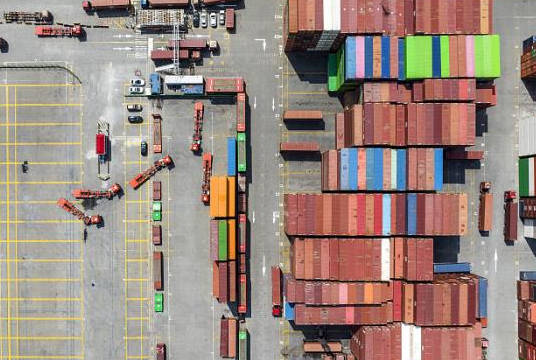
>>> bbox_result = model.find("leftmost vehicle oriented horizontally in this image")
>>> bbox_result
[3,10,53,22]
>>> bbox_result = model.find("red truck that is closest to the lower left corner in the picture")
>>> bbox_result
[58,198,103,226]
